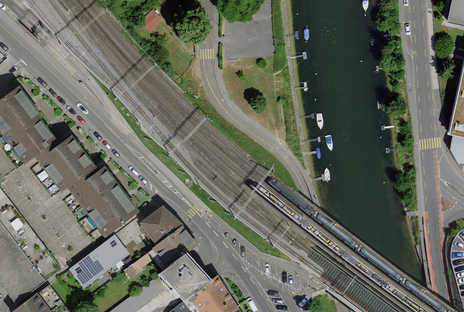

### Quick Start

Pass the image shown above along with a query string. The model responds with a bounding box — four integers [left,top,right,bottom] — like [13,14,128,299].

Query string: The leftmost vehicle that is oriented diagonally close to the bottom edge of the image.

[246,296,258,312]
